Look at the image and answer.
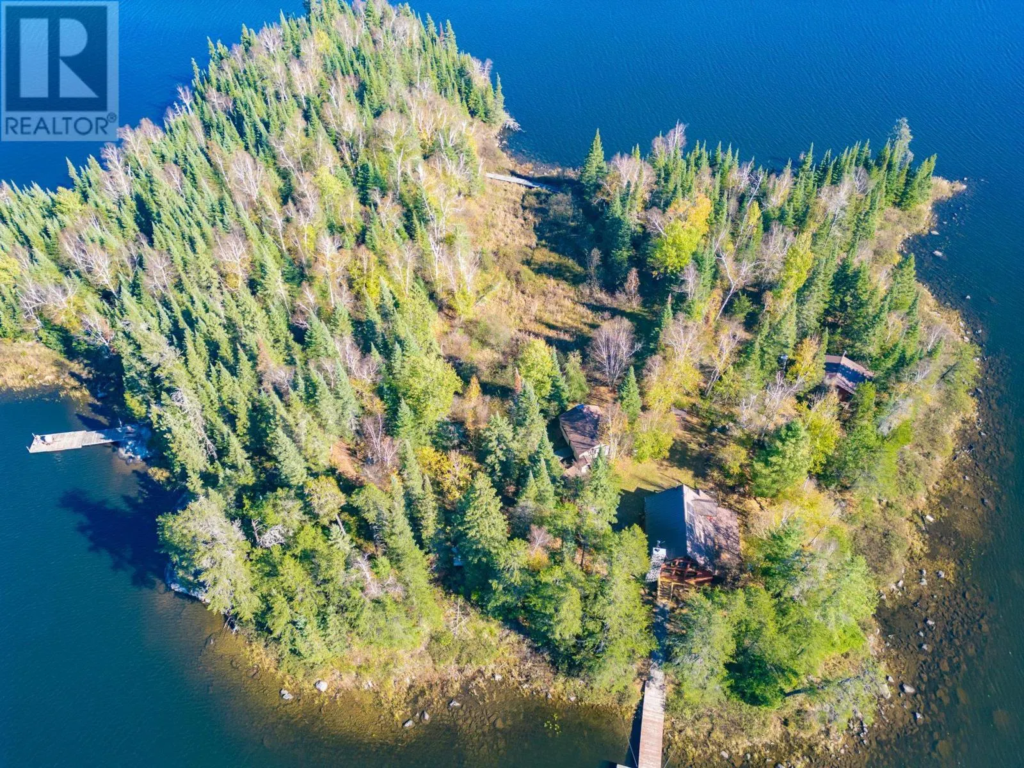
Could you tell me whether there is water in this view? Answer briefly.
Yes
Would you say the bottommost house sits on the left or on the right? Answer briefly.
right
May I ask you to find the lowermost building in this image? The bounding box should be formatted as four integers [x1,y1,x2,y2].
[645,482,743,616]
